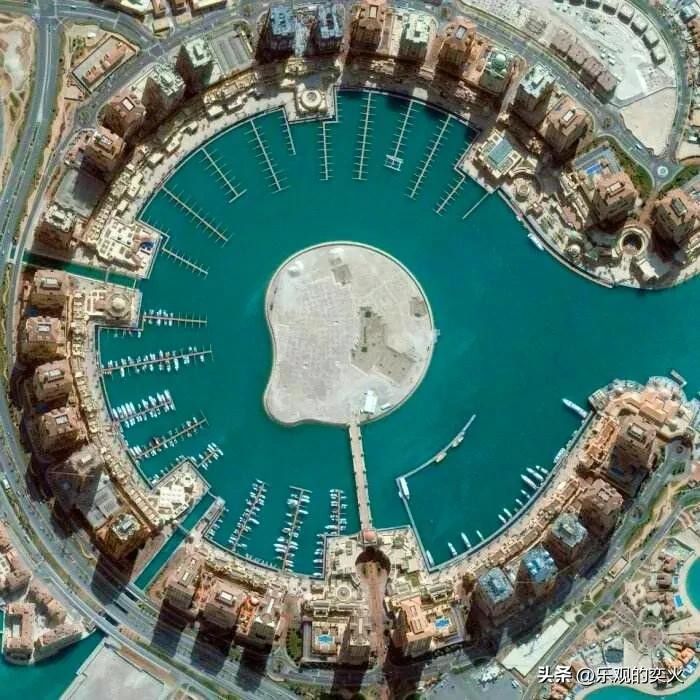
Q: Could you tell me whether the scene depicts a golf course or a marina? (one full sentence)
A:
This looks like a marina.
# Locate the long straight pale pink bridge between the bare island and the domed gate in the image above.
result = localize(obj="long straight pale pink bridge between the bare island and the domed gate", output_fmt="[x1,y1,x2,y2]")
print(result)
[347,421,373,532]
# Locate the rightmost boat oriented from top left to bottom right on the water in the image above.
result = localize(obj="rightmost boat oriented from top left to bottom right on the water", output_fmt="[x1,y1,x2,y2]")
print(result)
[563,400,588,418]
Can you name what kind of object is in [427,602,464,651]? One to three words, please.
building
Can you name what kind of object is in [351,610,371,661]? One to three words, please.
building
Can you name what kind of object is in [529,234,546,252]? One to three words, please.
boat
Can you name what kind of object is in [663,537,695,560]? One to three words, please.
sports court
